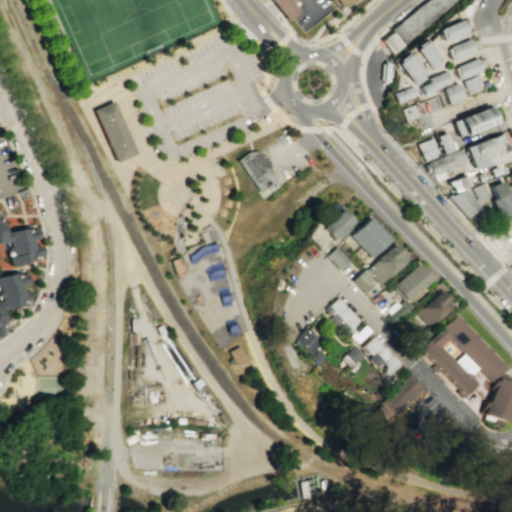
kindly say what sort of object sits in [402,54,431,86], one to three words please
house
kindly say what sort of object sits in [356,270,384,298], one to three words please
house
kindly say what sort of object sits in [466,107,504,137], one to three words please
building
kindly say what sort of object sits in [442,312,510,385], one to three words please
building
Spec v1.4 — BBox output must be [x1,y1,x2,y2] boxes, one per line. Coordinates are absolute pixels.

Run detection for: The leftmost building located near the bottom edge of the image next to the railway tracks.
[296,474,330,500]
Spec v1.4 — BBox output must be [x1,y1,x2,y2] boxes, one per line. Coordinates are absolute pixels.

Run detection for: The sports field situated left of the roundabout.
[52,0,224,83]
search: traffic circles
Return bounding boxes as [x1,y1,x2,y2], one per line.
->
[270,43,356,127]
